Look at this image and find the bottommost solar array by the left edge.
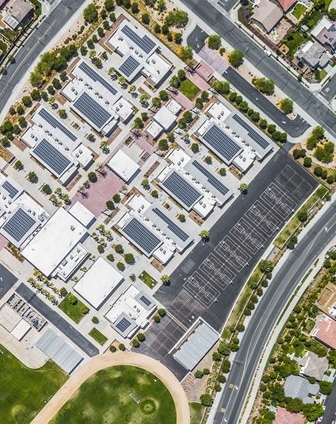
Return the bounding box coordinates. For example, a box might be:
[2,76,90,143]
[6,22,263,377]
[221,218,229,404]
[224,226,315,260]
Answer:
[4,210,35,242]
